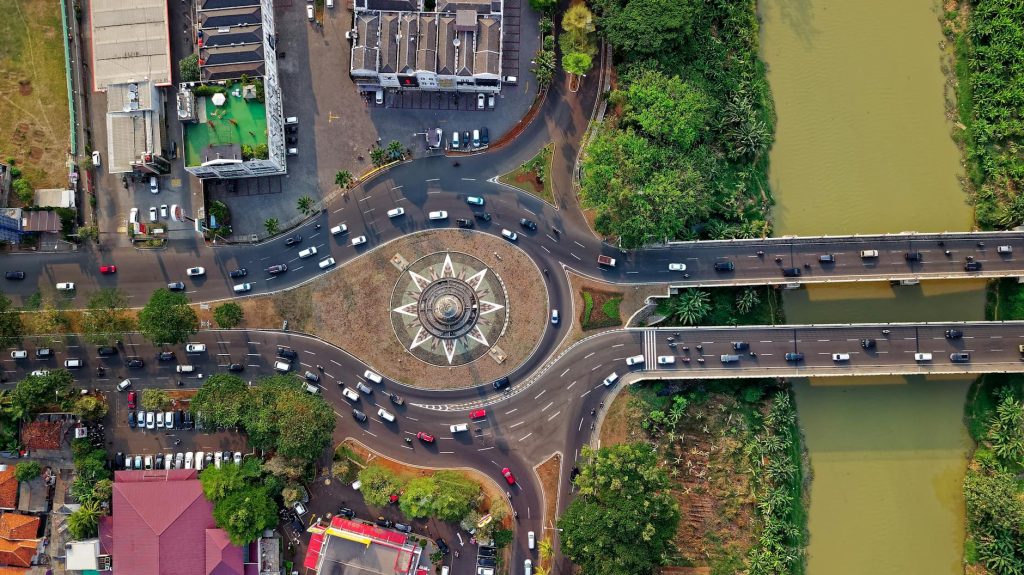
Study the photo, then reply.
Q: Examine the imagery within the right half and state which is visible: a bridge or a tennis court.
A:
bridge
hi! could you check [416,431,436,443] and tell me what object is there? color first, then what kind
red vehicle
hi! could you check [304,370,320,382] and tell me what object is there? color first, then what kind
gray vehicle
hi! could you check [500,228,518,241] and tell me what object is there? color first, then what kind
white vehicle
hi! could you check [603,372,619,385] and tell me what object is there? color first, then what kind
white vehicle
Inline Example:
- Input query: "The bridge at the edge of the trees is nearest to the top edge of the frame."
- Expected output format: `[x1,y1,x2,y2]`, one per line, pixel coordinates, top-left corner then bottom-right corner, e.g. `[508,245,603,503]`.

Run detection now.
[664,231,1024,290]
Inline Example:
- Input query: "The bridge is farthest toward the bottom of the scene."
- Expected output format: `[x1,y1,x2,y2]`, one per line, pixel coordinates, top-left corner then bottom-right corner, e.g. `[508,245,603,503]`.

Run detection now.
[626,320,1024,380]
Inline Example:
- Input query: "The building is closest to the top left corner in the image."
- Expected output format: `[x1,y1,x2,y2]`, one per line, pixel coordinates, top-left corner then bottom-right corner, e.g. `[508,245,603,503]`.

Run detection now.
[92,0,171,92]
